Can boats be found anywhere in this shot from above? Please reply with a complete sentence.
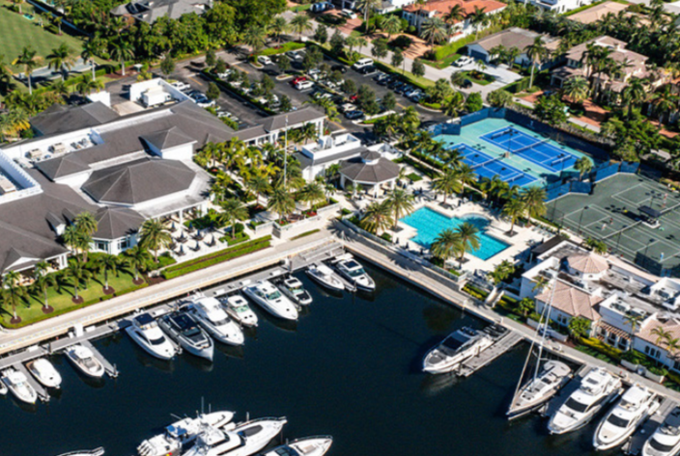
Yes, this view includes a boat.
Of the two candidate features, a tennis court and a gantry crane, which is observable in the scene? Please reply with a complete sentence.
There is a tennis court in the scene.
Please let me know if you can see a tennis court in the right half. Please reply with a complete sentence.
Yes, there is a tennis court in the right half.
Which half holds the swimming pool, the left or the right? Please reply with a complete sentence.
The swimming pool is on the right side of the image.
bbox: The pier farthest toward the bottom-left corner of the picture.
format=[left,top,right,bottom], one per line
[14,360,51,401]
